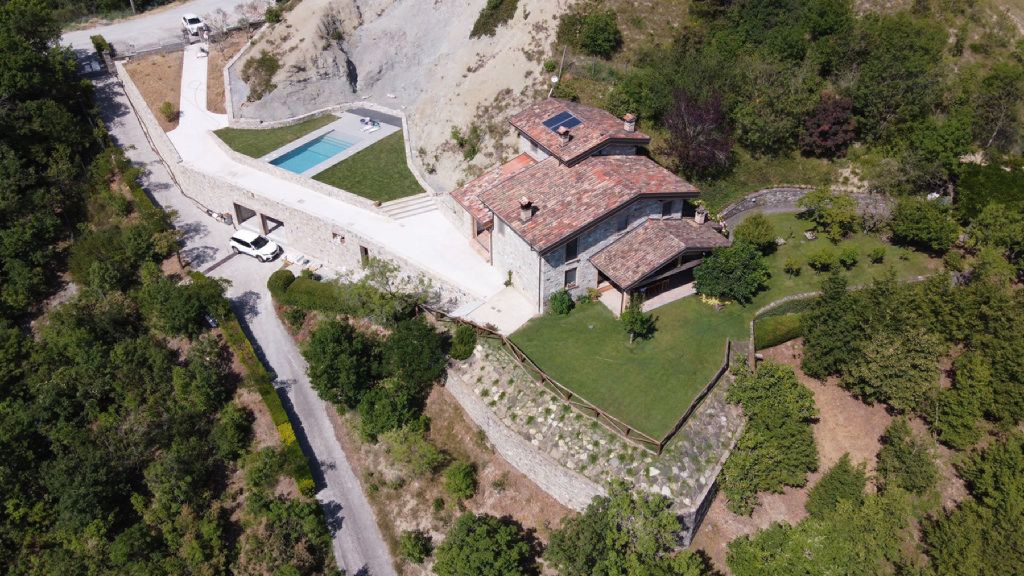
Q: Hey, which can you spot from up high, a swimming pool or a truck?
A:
swimming pool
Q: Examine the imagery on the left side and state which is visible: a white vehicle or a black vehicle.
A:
white vehicle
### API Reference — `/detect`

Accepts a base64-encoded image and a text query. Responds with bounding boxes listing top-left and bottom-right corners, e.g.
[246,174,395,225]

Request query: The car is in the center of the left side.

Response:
[228,229,278,263]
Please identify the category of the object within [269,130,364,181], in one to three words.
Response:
swimming pool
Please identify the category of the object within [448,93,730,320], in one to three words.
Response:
house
